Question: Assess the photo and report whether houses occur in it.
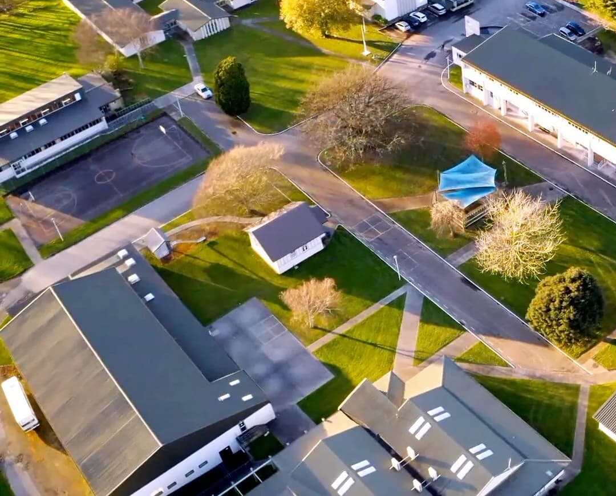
Yes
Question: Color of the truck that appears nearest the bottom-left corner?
white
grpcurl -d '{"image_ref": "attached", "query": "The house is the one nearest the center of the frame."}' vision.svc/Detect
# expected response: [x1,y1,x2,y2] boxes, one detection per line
[244,200,341,273]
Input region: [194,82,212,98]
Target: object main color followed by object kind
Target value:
white car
